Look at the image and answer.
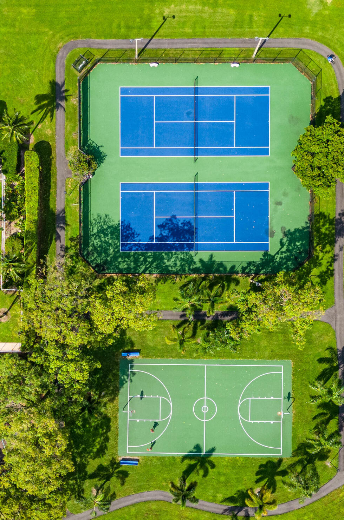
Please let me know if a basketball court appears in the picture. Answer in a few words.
Yes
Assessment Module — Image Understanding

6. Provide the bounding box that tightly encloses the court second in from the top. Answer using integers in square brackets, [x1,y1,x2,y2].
[80,169,312,274]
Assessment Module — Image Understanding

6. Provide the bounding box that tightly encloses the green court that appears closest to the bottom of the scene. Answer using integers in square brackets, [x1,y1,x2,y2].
[118,359,291,457]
